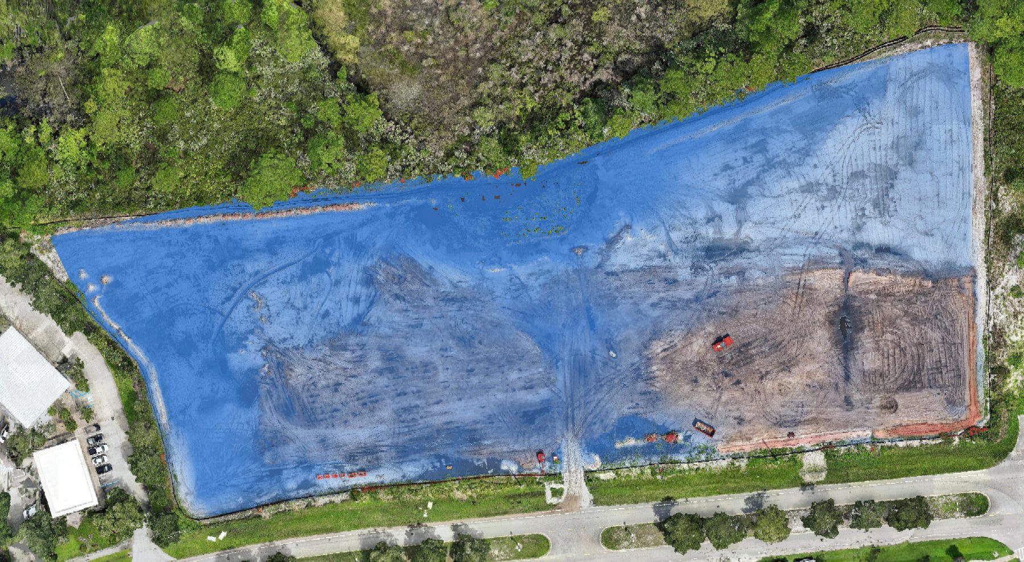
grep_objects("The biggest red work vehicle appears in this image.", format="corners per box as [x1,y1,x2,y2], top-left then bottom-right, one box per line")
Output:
[711,336,734,352]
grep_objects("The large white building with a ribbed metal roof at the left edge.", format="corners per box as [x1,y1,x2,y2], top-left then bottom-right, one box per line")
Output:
[0,325,70,428]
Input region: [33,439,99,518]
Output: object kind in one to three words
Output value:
building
